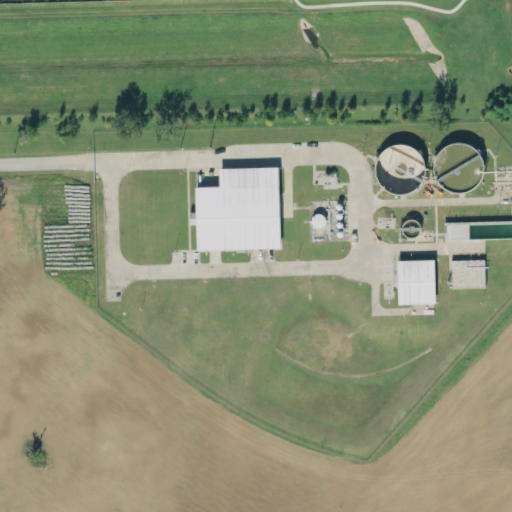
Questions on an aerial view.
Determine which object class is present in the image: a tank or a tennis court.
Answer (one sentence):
It is a tank that can be seen here.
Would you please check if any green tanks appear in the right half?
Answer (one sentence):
Yes, in the right half there is a green tank.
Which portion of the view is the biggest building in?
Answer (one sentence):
Look in the center portion of the view to spot the biggest building.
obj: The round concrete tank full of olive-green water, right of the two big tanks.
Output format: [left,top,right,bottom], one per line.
[434,142,484,194]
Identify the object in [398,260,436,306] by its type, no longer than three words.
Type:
building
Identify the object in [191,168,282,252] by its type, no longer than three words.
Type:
building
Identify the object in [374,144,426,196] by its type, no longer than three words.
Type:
storage tank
